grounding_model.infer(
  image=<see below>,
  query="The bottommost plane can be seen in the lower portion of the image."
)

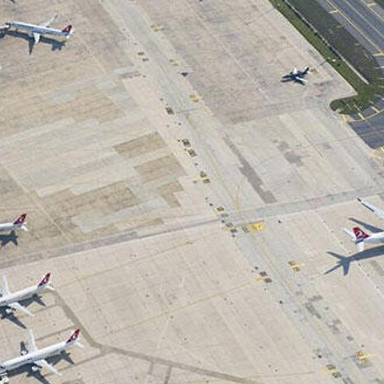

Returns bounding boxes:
[0,330,84,376]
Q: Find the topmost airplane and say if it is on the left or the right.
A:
left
